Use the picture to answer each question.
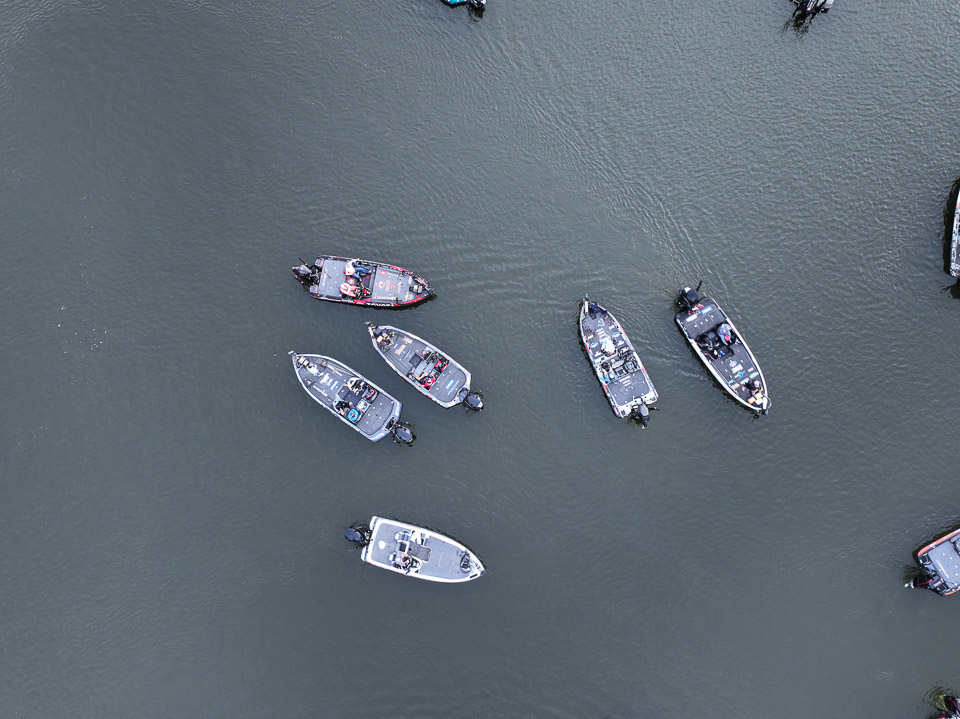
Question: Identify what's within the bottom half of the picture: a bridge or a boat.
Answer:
boat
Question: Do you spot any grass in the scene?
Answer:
No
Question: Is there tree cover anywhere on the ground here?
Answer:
No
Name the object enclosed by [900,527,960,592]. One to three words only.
boat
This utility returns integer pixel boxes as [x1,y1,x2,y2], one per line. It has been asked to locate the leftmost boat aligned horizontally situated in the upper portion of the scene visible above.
[292,255,436,307]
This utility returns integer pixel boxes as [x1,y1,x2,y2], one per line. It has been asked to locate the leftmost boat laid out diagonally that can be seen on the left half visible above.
[286,351,413,442]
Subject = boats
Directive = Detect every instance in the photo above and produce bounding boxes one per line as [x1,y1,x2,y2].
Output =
[286,351,413,442]
[449,0,486,19]
[292,255,436,307]
[674,279,772,417]
[946,182,960,279]
[344,514,487,581]
[900,527,960,592]
[363,321,483,409]
[797,0,836,19]
[579,293,661,422]
[937,690,960,719]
